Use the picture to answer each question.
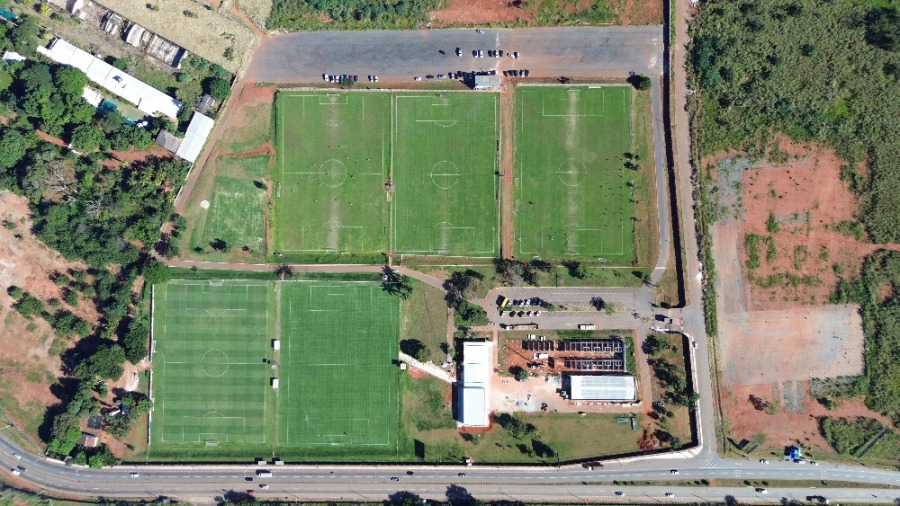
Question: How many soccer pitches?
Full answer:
In total, 5 soccer pitches can be seen.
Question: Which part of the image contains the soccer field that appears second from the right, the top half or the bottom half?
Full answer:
Seen from above, the soccer field that appears second from the right lies in the top half of the view.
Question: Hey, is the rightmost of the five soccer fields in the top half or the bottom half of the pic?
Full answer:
Seen from above, the rightmost of the five soccer fields lies in the top half of the view.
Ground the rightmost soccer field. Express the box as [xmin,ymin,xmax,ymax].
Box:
[514,85,634,259]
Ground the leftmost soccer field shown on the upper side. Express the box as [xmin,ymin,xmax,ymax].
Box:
[272,91,388,254]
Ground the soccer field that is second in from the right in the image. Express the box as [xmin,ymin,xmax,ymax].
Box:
[390,92,499,256]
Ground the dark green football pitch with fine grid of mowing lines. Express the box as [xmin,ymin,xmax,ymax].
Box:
[279,282,398,449]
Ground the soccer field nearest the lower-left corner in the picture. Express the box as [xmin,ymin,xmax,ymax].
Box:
[150,281,275,448]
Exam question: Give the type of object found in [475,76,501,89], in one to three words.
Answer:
building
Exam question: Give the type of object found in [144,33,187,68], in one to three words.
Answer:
shed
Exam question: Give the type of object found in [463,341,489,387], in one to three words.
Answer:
building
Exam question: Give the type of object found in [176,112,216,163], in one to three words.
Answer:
shed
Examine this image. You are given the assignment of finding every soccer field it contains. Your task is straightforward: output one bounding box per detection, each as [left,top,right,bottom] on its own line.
[514,85,634,259]
[390,92,499,256]
[272,91,388,254]
[150,281,275,448]
[279,282,398,449]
